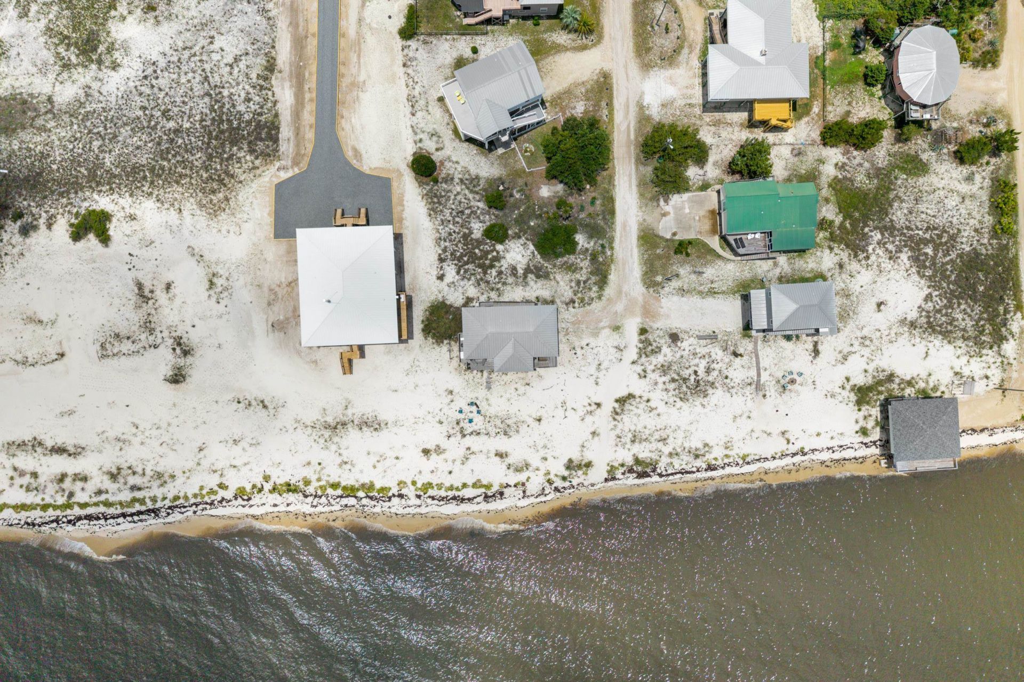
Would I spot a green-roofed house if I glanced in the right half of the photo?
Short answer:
Yes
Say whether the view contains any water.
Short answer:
Yes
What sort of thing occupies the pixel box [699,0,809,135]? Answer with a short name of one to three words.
house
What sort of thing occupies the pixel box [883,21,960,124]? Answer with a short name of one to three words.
house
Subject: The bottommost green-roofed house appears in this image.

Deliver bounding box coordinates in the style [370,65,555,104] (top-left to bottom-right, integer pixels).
[717,173,818,262]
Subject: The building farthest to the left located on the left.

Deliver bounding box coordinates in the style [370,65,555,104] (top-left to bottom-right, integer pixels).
[296,206,411,375]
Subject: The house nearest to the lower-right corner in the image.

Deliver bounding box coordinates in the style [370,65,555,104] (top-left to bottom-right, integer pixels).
[880,397,962,473]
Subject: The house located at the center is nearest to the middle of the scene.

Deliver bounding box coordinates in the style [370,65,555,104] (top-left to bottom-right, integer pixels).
[459,301,558,372]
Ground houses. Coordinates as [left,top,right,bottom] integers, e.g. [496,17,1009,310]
[456,0,564,27]
[883,21,960,124]
[296,206,411,375]
[699,0,809,135]
[459,301,558,372]
[717,173,818,262]
[440,41,546,145]
[880,397,962,473]
[742,281,837,336]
